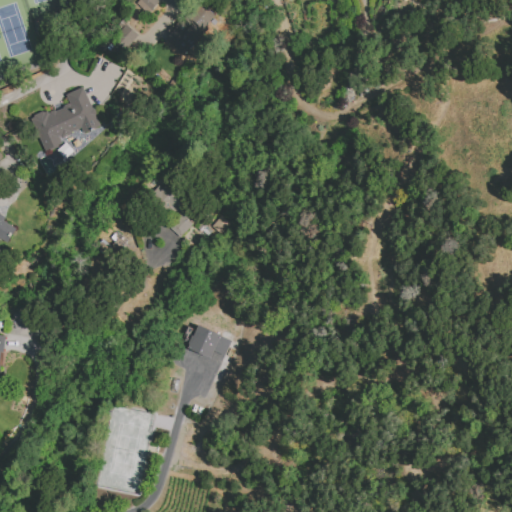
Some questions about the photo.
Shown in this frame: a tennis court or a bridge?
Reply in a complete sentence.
This aerial view contains a tennis court.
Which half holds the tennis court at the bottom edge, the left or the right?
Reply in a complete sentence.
The tennis court at the bottom edge is on the left side of the image.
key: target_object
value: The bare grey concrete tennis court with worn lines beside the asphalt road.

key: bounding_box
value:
[98,408,152,496]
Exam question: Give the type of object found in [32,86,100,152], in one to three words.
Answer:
house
